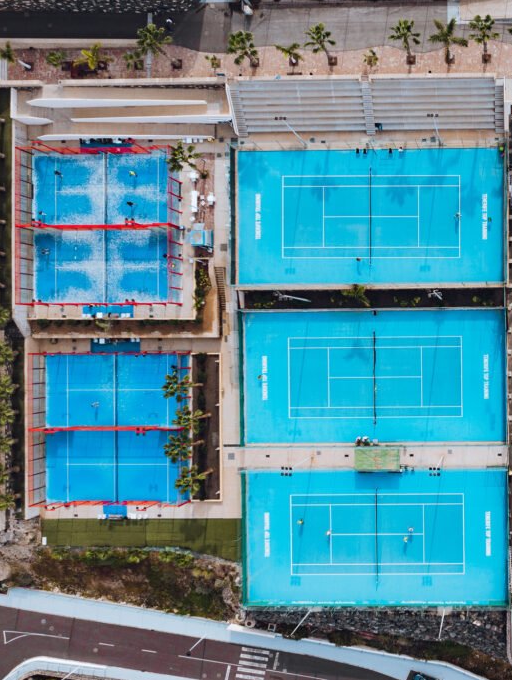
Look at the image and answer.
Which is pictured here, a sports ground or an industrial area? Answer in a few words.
sports ground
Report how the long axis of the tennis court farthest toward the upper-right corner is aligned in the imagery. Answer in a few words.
horizontally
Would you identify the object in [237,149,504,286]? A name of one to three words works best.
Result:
tennis court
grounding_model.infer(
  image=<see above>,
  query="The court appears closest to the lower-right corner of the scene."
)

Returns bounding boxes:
[245,470,507,605]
